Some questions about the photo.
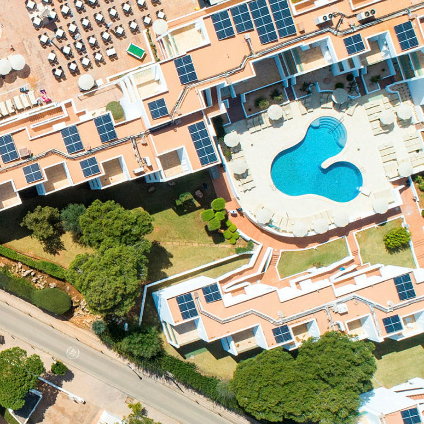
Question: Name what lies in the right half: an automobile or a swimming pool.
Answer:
swimming pool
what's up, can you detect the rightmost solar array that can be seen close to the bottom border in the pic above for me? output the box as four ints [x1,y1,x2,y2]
[401,406,423,424]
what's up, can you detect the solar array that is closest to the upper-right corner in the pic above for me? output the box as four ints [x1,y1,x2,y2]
[393,22,419,50]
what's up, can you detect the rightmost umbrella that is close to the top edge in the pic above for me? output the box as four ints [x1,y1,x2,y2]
[151,18,168,36]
